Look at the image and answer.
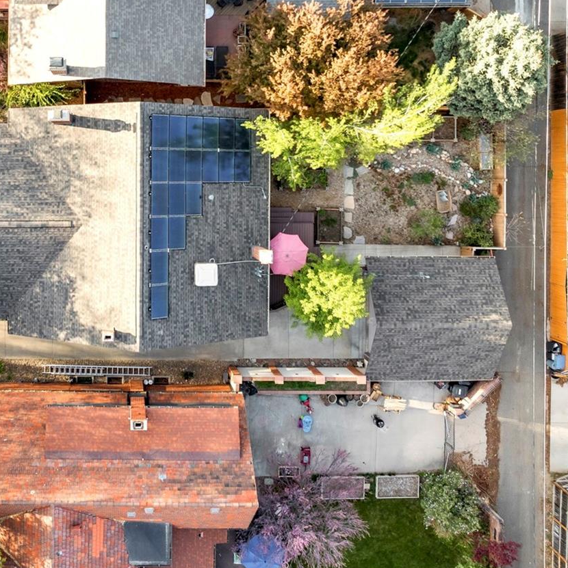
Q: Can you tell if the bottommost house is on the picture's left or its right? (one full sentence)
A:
The bottommost house sits on the left side.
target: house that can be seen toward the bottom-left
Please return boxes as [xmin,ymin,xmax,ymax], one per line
[0,372,259,568]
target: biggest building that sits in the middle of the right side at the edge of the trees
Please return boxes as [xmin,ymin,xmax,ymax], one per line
[359,255,512,382]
